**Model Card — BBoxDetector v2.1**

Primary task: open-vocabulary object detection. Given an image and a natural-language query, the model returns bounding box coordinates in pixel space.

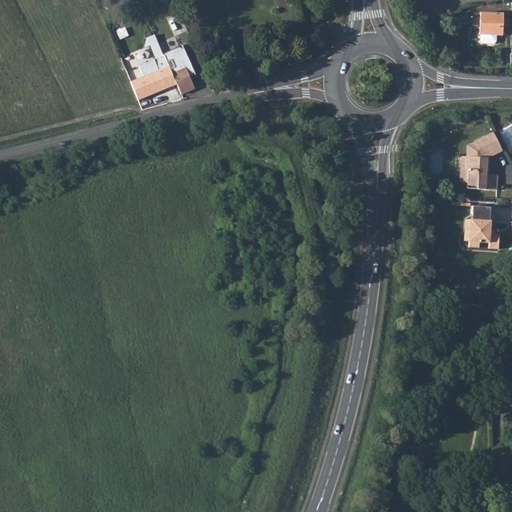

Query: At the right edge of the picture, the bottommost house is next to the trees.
[464,206,500,251]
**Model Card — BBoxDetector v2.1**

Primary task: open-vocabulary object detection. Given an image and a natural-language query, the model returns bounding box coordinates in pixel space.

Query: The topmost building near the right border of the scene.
[480,11,504,45]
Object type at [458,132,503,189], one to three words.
house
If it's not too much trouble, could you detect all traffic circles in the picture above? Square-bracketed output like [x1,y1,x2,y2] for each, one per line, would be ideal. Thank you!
[246,0,512,188]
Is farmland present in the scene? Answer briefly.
Yes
